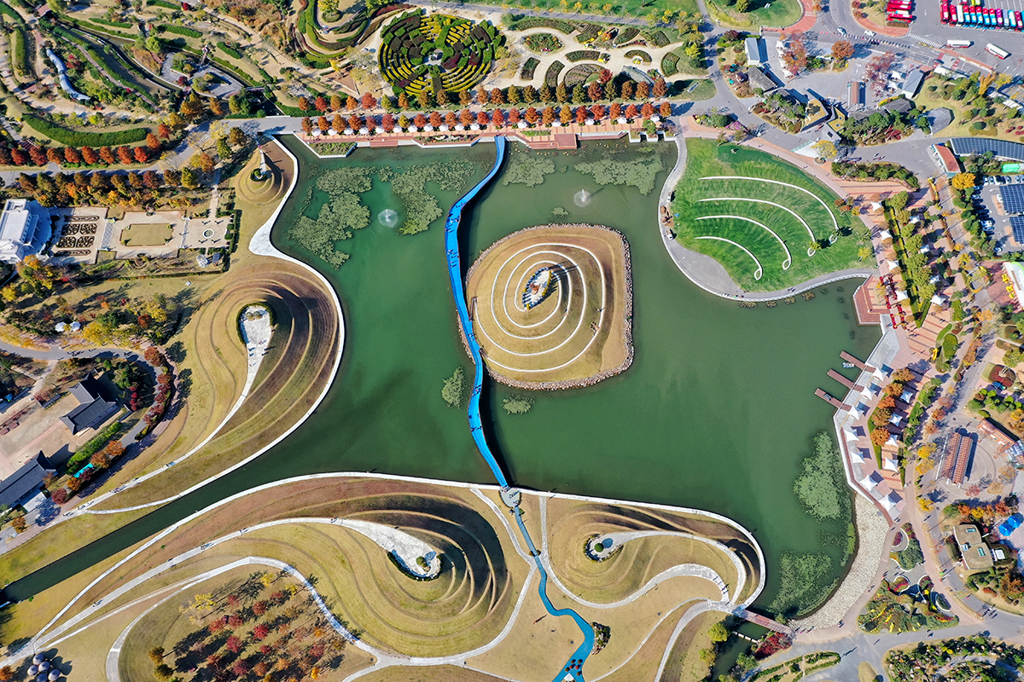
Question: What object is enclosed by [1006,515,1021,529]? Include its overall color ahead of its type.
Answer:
blue umbrella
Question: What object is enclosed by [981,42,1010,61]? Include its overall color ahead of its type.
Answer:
white vehicle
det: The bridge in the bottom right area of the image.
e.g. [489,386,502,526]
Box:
[740,609,797,639]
